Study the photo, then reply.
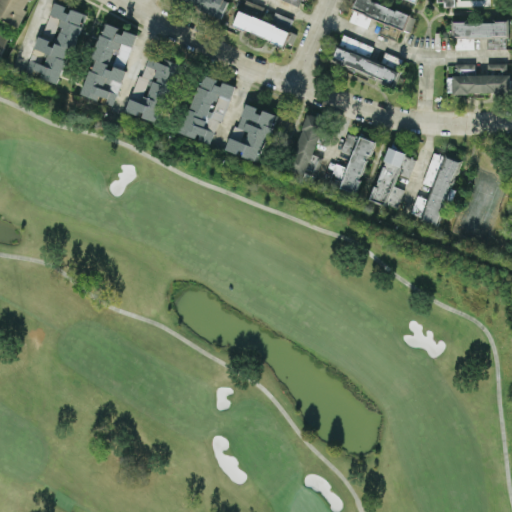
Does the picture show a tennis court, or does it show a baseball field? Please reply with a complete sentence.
Looking from above, you can make out a tennis court.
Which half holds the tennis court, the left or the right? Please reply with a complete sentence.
You can find the tennis court on the right side of the picture.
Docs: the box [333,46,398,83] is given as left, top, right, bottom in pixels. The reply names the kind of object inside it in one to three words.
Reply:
house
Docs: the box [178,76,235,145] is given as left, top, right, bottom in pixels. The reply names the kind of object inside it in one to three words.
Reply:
house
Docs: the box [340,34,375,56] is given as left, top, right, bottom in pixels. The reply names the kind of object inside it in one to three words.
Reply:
building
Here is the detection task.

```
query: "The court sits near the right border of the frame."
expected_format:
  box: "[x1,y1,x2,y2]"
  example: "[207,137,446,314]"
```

[460,168,504,234]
